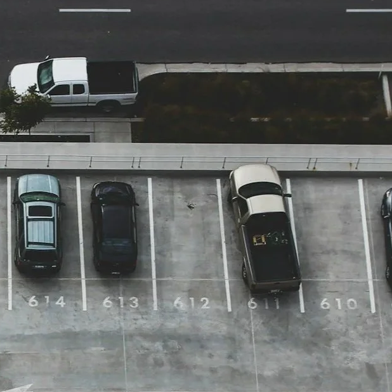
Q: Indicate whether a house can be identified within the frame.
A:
No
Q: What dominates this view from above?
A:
paved ground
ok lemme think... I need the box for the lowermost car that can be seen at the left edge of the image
[12,173,67,280]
